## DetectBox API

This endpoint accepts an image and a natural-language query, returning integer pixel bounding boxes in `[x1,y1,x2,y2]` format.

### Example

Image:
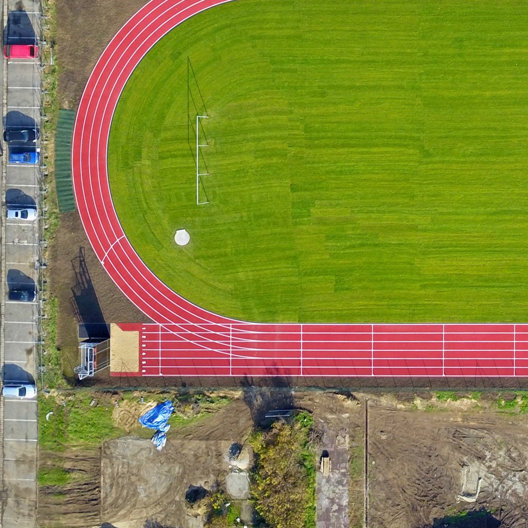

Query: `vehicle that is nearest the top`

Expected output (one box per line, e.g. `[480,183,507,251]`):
[3,43,39,60]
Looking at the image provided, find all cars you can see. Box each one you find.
[7,208,37,222]
[1,382,36,401]
[8,288,37,303]
[9,150,40,166]
[2,127,40,144]
[3,43,39,60]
